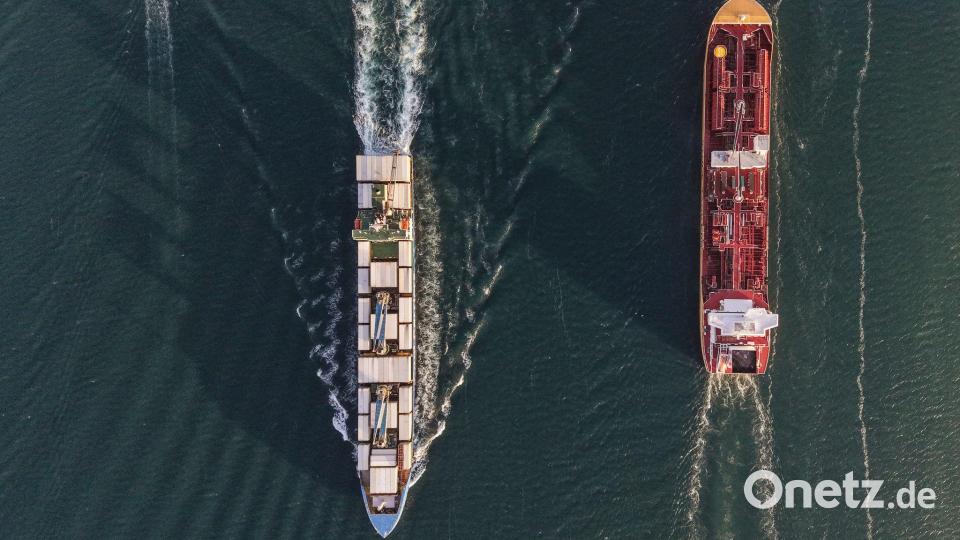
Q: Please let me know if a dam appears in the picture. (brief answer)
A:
No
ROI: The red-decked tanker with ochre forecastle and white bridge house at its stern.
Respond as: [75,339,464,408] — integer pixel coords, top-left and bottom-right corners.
[699,0,778,373]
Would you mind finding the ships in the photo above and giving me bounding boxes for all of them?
[699,0,778,373]
[352,148,415,536]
